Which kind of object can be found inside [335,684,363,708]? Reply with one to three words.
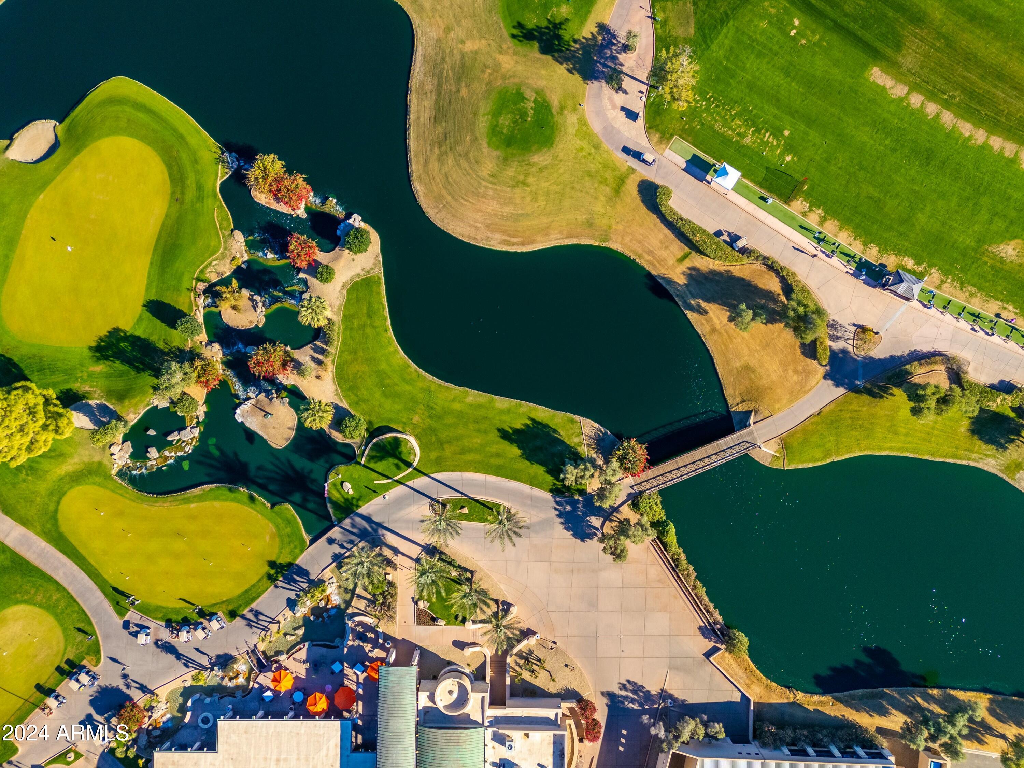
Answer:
umbrella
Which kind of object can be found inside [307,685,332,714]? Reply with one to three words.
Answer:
umbrella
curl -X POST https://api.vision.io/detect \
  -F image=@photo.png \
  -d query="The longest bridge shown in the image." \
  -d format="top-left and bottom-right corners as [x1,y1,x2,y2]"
[629,423,765,500]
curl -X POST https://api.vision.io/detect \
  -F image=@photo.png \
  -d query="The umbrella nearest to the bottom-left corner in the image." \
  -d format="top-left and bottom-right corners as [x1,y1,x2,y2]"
[272,669,294,701]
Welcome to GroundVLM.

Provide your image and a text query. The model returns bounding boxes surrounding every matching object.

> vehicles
[731,237,748,251]
[69,674,89,692]
[196,624,212,641]
[639,152,656,168]
[78,667,98,685]
[47,691,67,709]
[210,614,226,631]
[178,625,192,642]
[137,628,151,645]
